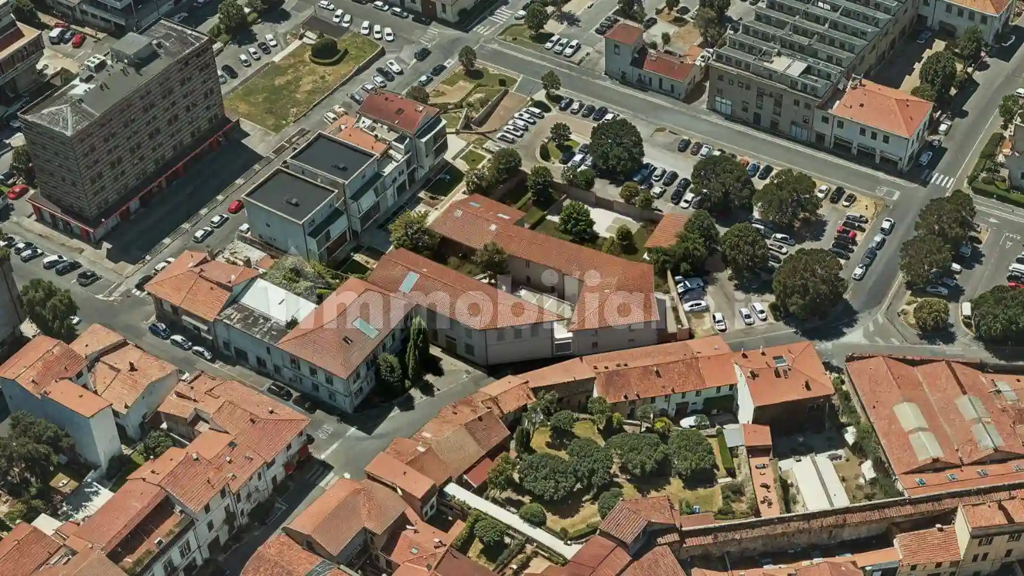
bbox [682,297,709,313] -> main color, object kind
white car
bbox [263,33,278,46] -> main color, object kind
white vehicle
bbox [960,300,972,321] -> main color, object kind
white vehicle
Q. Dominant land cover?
buildings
